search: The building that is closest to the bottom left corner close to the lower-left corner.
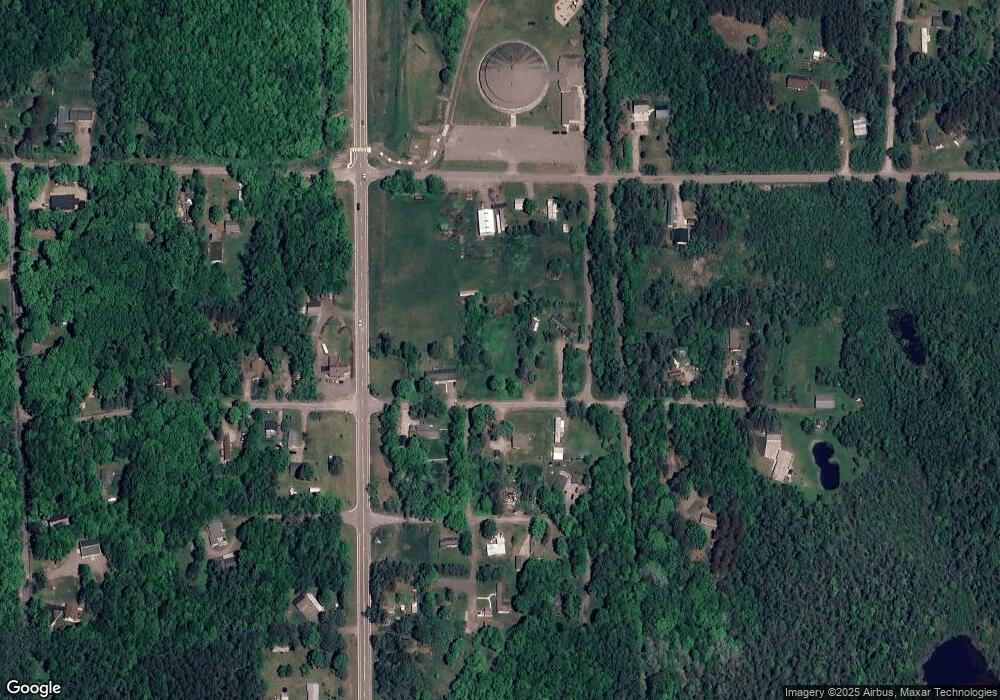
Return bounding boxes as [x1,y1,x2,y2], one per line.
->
[62,602,83,622]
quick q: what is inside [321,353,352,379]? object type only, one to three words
building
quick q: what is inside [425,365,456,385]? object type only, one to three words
house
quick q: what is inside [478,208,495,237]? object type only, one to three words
barn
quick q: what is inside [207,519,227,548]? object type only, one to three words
house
